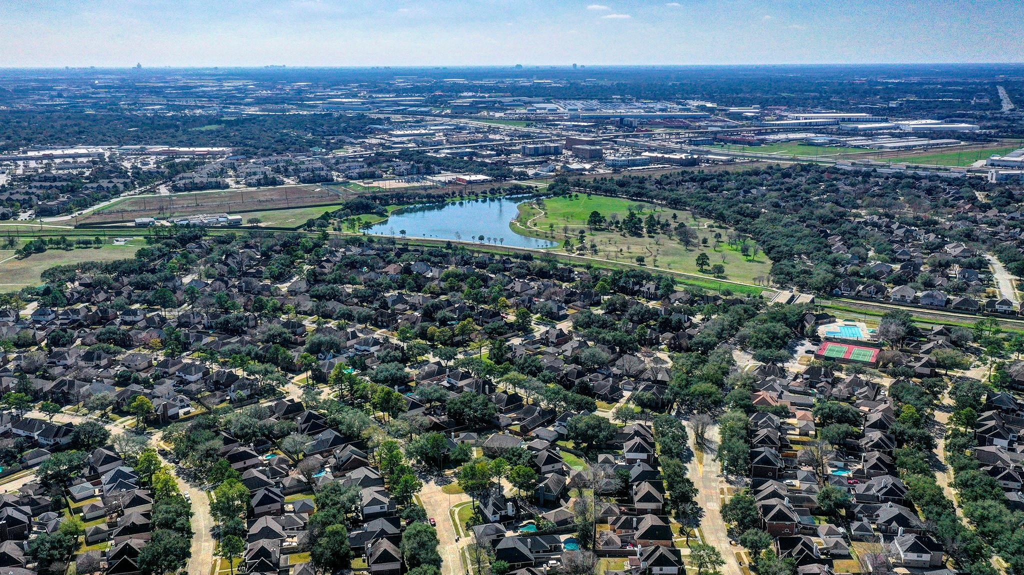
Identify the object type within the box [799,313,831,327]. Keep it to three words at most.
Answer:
building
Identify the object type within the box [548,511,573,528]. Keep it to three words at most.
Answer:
building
